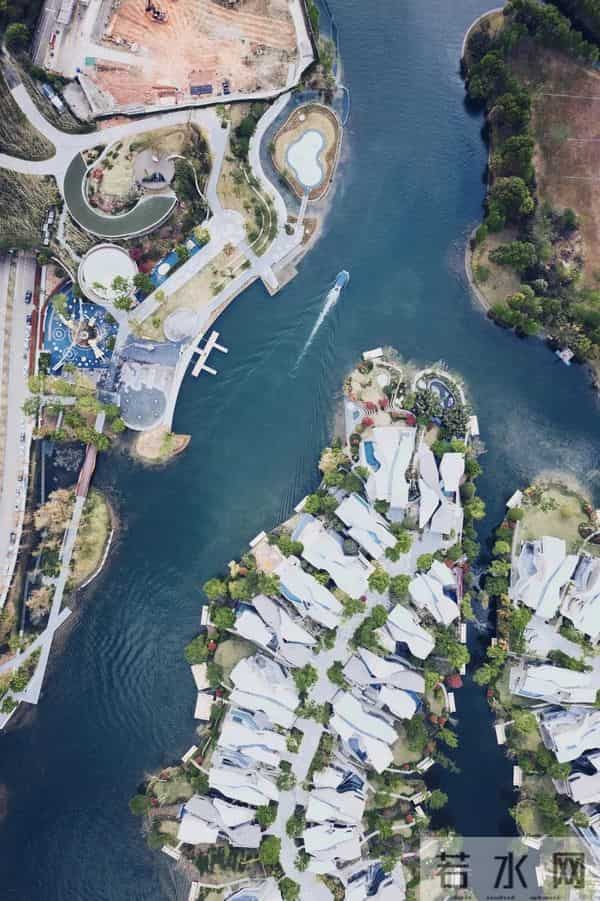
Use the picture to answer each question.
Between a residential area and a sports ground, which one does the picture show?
residential area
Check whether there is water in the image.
Yes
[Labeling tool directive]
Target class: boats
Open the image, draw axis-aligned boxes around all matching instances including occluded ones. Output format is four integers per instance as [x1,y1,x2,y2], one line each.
[335,270,348,289]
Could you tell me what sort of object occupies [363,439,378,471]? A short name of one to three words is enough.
swimming pool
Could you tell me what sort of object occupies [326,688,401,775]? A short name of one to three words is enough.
house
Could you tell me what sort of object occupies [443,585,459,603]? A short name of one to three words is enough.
swimming pool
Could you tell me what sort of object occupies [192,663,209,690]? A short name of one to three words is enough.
pier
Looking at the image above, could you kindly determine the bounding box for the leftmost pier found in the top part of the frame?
[193,331,228,377]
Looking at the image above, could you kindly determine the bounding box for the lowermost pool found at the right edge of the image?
[569,759,598,774]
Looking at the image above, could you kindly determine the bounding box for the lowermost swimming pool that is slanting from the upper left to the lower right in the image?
[348,737,367,762]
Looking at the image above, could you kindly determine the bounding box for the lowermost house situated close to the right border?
[563,802,600,874]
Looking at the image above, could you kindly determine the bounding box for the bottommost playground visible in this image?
[43,281,118,371]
